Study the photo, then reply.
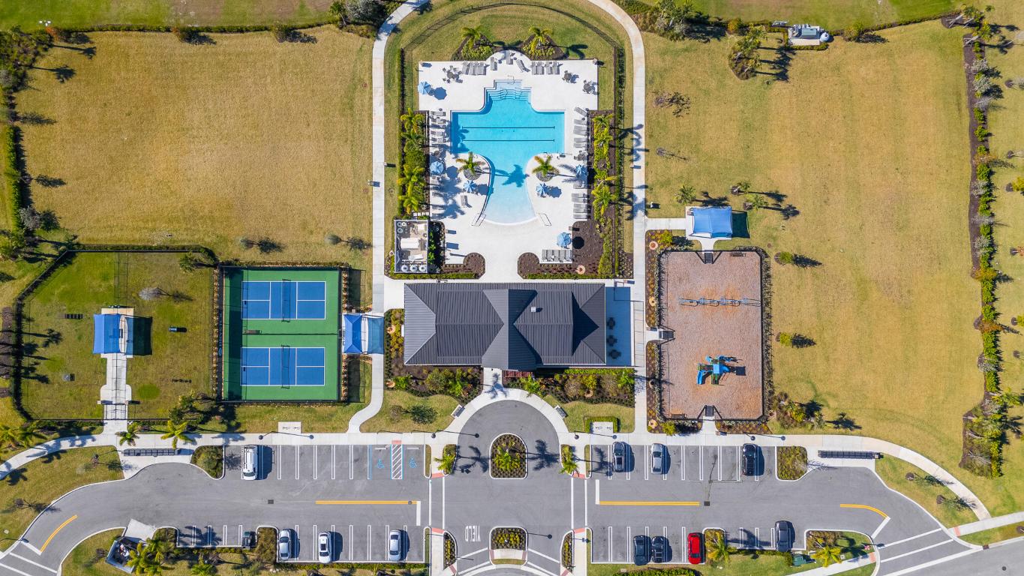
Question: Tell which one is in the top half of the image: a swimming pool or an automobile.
swimming pool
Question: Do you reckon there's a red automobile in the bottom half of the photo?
Yes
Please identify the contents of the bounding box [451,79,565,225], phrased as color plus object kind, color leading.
blue swimming pool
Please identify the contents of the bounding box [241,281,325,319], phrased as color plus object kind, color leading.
blue sports court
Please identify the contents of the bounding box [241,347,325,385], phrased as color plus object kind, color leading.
blue sports court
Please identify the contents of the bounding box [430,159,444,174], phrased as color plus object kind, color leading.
blue umbrella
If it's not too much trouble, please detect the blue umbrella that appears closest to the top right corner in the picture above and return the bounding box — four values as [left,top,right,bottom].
[574,163,588,177]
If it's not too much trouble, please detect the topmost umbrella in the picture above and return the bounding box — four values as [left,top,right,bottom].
[418,81,431,95]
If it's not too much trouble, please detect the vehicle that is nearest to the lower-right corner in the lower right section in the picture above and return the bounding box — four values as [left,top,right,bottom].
[775,519,790,552]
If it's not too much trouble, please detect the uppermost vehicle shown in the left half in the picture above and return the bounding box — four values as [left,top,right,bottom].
[242,444,260,480]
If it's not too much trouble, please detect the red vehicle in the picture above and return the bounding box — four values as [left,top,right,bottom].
[687,531,703,563]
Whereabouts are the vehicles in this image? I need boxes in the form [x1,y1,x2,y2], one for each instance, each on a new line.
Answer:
[237,530,250,549]
[650,442,664,474]
[318,531,333,563]
[388,529,402,561]
[612,440,626,472]
[242,444,260,480]
[775,519,790,552]
[633,533,647,564]
[278,528,293,561]
[651,534,666,563]
[687,531,703,563]
[741,442,757,475]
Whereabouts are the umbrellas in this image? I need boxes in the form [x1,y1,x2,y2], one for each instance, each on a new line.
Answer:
[574,163,588,177]
[558,232,571,246]
[418,81,431,95]
[534,182,549,196]
[462,178,476,192]
[430,159,444,174]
